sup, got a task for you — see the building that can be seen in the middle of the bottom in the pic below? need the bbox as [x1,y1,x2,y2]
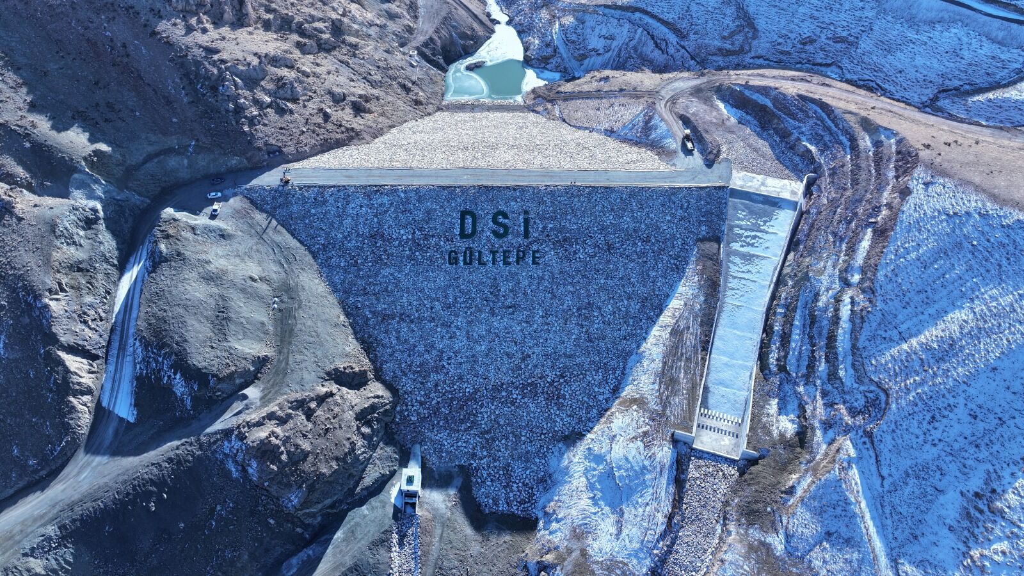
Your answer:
[399,422,422,524]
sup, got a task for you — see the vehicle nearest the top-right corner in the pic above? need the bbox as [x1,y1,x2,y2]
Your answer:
[682,127,702,149]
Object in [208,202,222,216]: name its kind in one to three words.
vehicle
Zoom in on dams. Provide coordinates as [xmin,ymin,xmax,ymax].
[238,103,736,521]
